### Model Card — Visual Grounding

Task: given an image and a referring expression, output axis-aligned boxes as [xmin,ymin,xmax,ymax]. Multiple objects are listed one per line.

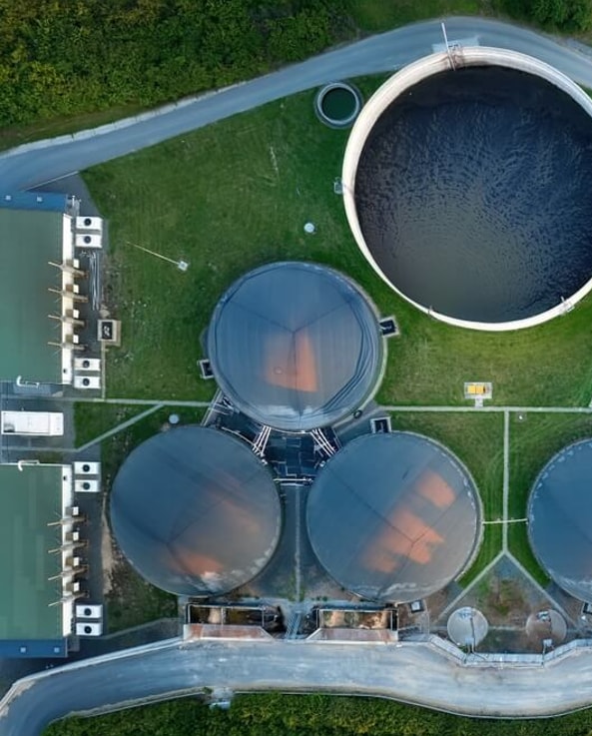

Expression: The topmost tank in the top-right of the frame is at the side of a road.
[333,22,592,333]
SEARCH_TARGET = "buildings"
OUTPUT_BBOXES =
[0,193,87,394]
[0,459,87,656]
